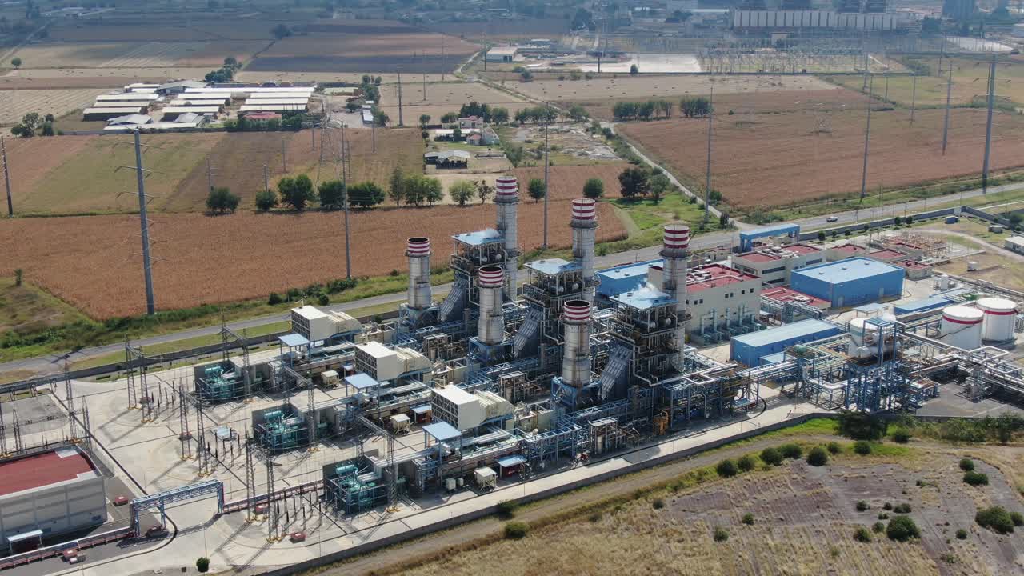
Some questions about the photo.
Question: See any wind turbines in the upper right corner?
No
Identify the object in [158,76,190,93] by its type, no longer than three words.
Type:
shed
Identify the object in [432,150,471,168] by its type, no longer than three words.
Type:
shed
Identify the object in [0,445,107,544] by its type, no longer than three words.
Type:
building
